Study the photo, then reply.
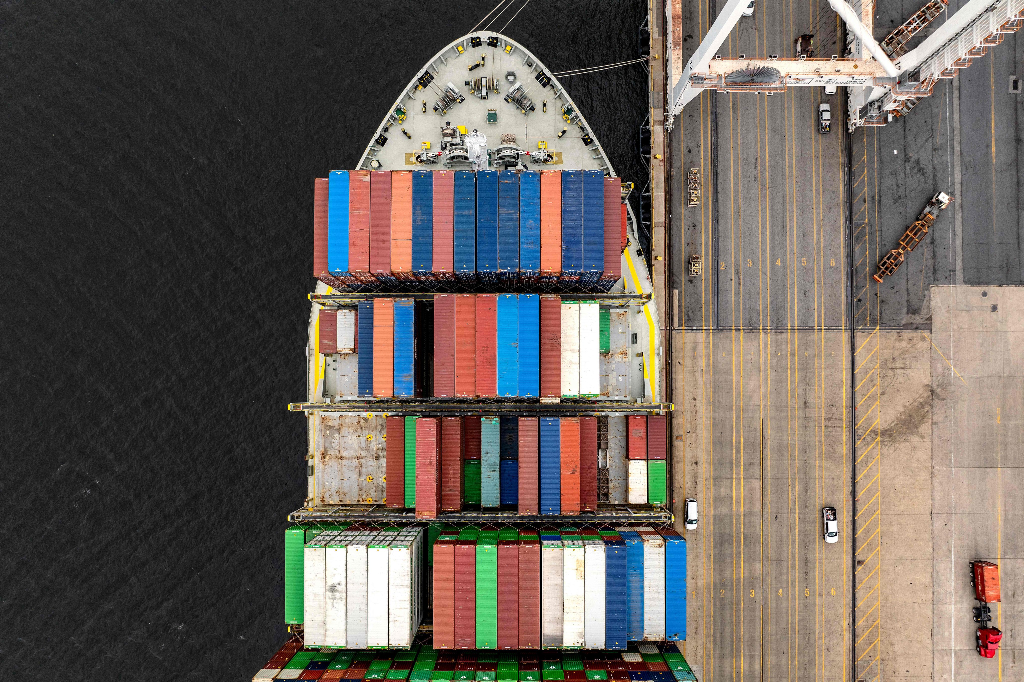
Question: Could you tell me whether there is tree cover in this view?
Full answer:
No, there is no tree cover in the image.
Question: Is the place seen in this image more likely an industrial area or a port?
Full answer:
This image shows a port.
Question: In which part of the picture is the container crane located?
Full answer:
The container crane is located in the top right region of the scene.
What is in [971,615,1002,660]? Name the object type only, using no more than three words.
truck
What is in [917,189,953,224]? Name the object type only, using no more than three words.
work vehicle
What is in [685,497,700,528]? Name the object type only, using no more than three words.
vehicle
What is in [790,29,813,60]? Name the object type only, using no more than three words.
truck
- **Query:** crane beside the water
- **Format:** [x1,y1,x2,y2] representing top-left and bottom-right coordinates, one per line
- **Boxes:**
[663,0,1024,142]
